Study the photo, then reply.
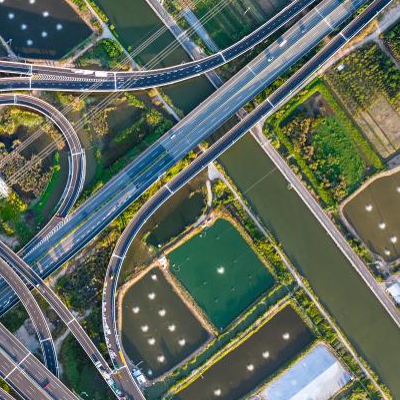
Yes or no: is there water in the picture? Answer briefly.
Yes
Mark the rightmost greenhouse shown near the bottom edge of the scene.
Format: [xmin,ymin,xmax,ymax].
[261,344,351,400]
